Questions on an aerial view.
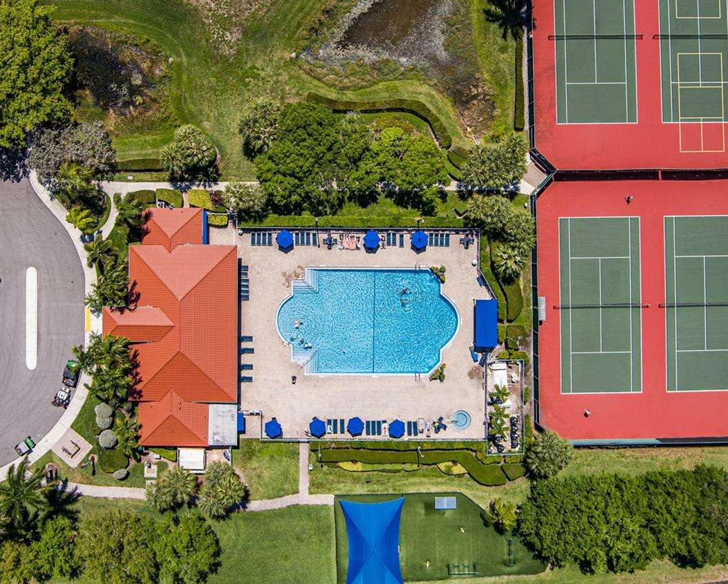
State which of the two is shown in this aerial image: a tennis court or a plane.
tennis court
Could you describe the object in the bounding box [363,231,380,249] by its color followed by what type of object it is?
blue umbrella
